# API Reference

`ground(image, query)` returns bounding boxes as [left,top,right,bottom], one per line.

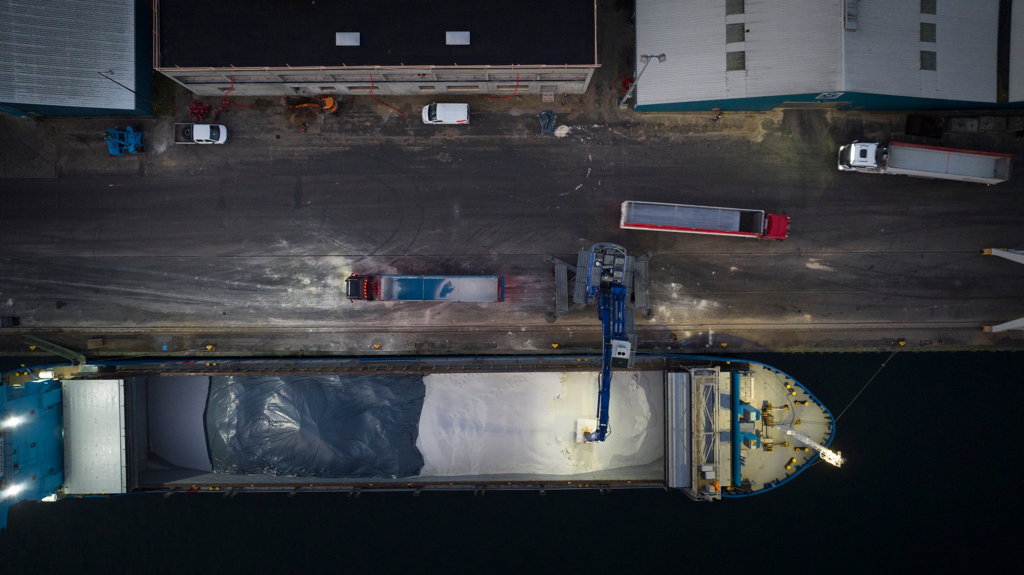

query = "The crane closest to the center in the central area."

[545,243,655,444]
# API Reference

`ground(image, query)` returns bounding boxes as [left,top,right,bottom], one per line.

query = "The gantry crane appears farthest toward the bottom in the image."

[676,364,721,501]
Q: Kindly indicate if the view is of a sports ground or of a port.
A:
port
